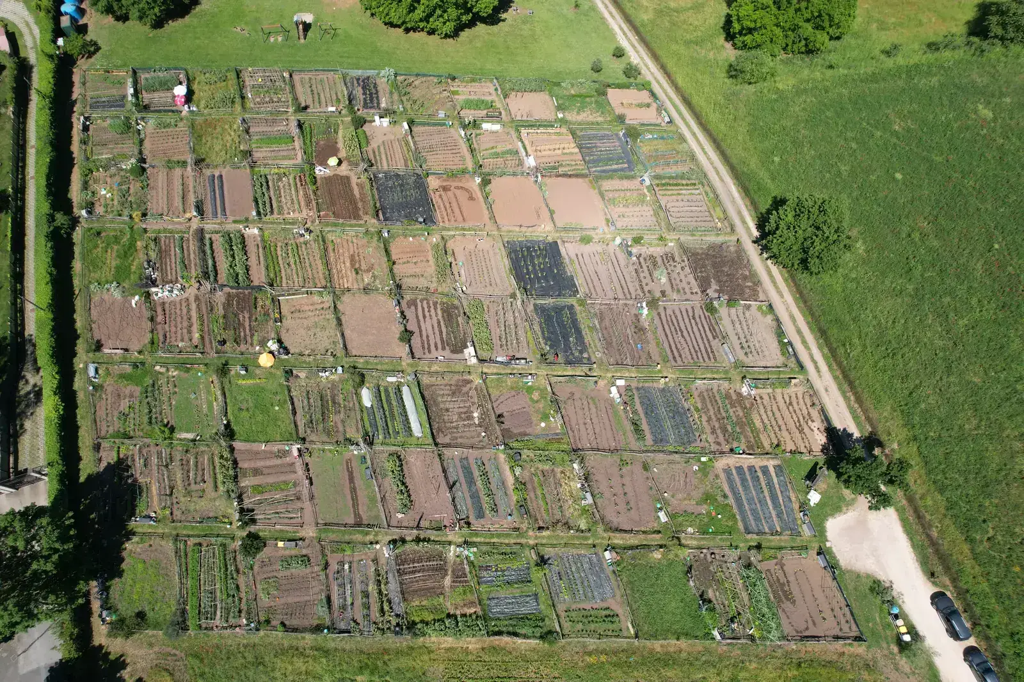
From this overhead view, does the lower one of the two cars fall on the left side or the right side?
right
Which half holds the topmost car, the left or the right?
right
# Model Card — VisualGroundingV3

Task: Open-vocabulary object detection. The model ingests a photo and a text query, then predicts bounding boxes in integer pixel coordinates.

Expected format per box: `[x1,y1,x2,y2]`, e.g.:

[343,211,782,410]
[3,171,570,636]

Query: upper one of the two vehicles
[927,591,970,641]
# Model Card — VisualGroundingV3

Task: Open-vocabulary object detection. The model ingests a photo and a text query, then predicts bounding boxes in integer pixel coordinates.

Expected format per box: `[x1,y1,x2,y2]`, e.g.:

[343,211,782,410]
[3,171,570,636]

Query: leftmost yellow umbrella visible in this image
[259,353,276,371]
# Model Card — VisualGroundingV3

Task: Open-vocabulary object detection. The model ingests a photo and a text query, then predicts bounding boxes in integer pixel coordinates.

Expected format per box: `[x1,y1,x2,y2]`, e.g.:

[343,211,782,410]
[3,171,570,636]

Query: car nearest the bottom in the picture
[960,649,998,682]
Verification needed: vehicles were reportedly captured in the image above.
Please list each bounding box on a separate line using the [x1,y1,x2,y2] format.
[960,649,998,682]
[927,591,970,641]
